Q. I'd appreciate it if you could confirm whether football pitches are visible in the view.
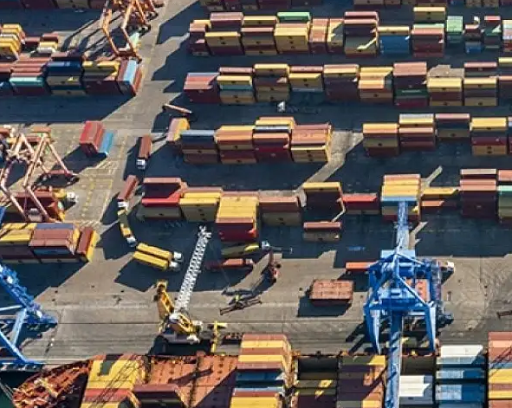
No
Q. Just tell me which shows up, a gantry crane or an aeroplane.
gantry crane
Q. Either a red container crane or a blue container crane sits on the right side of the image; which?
blue container crane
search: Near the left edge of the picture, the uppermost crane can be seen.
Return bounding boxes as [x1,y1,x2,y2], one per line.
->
[6,130,73,221]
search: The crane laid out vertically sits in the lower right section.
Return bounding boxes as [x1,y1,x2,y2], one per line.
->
[367,197,445,408]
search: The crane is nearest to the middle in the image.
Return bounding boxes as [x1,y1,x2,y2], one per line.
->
[152,225,222,358]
